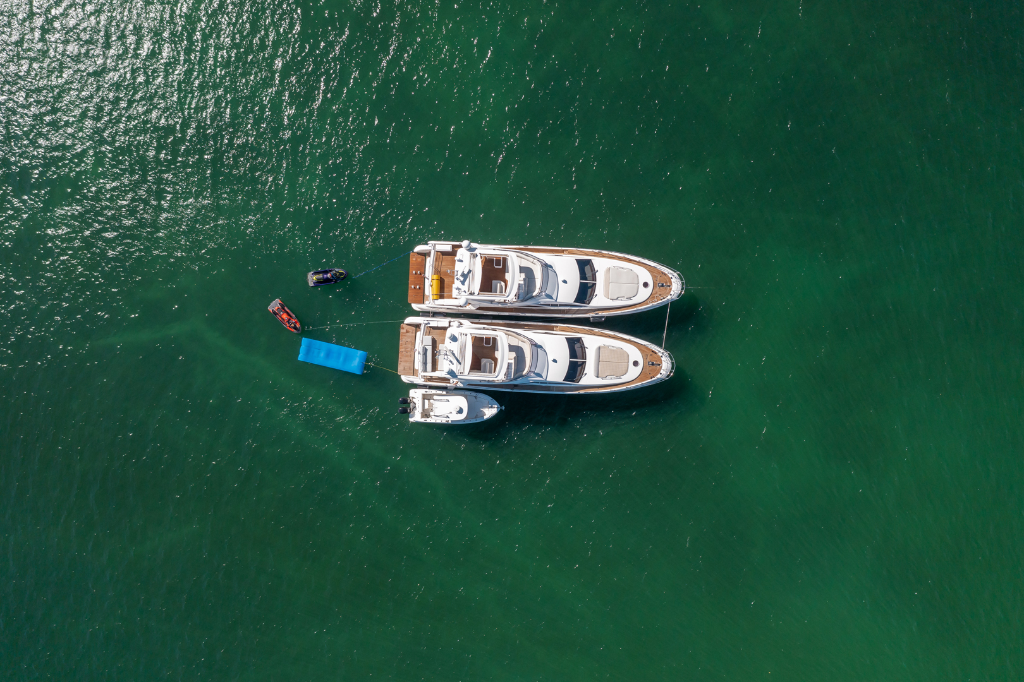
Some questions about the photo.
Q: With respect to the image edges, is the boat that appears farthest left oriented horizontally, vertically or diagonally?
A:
diagonally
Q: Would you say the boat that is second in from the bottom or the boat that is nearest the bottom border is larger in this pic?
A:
the boat that is second in from the bottom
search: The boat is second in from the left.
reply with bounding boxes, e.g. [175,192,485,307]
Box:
[308,269,348,286]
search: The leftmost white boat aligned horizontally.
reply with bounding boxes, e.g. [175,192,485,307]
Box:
[398,389,505,423]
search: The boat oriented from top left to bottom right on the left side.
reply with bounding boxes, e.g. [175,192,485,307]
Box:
[269,300,301,333]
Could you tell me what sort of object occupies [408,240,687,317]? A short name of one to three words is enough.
boat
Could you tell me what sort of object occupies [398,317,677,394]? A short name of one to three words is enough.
boat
